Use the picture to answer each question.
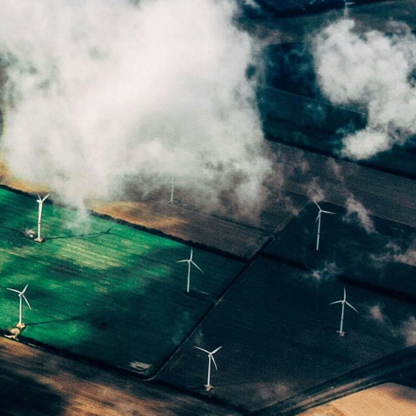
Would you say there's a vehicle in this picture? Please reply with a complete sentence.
No, no vehicle can be seen from above.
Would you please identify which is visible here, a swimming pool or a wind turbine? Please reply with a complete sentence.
It is a wind turbine that can be seen here.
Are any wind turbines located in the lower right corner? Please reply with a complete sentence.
Yes, looking in the lower right corner, one can make out a wind turbine.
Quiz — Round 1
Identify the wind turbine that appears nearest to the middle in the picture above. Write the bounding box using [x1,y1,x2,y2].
[163,163,186,205]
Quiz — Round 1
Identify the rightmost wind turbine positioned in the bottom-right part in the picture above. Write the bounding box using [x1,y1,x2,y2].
[328,289,354,335]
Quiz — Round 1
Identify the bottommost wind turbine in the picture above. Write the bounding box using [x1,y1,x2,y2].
[193,347,222,389]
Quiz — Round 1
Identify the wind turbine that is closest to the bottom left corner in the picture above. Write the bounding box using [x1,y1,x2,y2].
[6,284,27,328]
